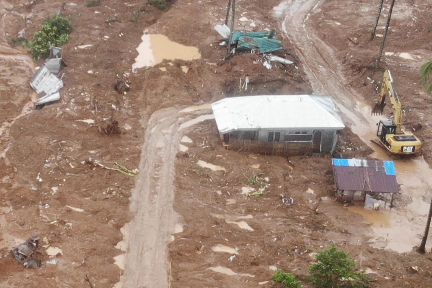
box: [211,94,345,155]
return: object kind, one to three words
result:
house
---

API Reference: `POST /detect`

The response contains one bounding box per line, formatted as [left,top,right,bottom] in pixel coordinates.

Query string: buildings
[331,159,398,209]
[211,94,345,155]
[30,47,67,106]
